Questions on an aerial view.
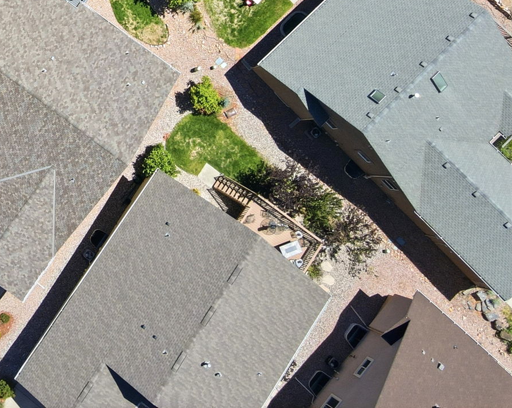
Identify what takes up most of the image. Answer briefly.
buildings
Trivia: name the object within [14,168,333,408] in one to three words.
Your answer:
house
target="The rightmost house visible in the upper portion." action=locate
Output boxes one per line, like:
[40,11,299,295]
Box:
[254,0,512,303]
